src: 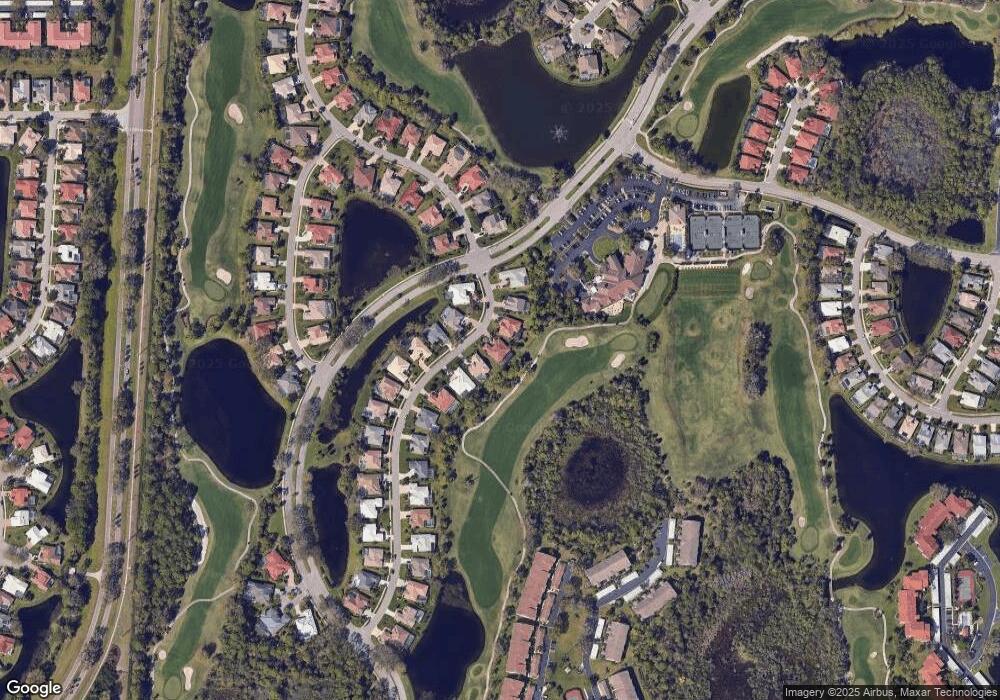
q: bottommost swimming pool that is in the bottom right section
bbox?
[959,611,973,630]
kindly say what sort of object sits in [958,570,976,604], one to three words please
tennis court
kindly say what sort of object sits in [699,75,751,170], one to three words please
pond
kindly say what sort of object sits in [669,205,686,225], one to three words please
building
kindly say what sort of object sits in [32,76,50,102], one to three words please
house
